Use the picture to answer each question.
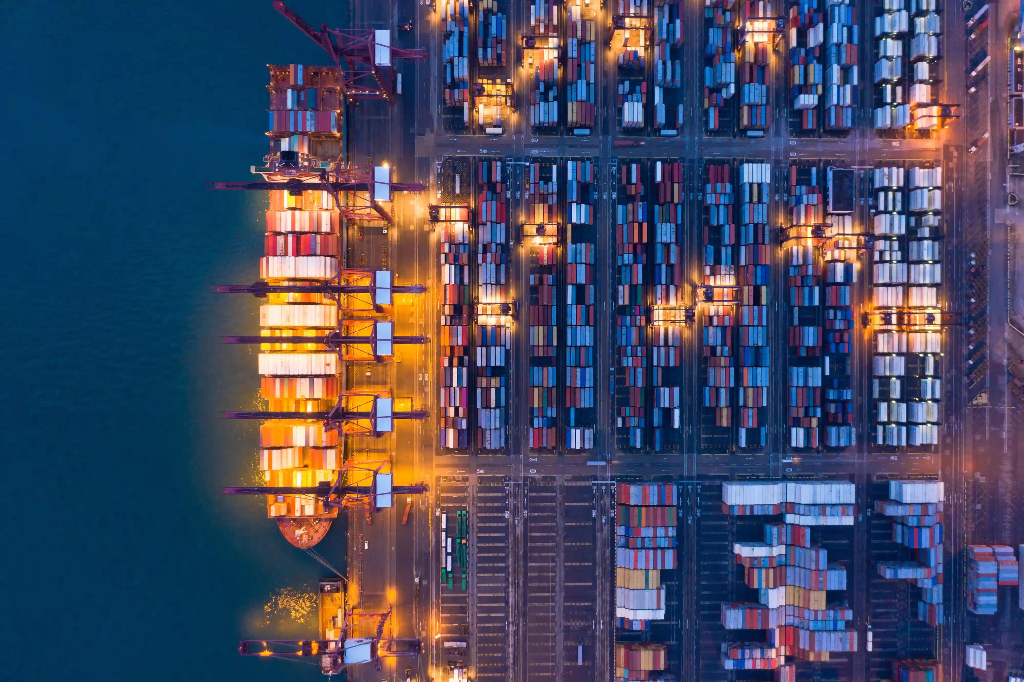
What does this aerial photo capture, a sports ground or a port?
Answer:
port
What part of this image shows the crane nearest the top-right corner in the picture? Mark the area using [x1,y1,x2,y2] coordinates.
[900,103,963,130]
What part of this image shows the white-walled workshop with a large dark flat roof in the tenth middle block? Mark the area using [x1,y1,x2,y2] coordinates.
[827,163,856,212]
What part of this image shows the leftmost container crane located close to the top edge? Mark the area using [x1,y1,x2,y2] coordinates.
[259,0,428,107]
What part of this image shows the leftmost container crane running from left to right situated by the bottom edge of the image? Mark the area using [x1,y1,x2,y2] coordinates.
[239,602,422,671]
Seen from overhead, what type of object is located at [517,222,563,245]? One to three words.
container crane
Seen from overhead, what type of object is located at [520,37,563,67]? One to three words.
container crane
